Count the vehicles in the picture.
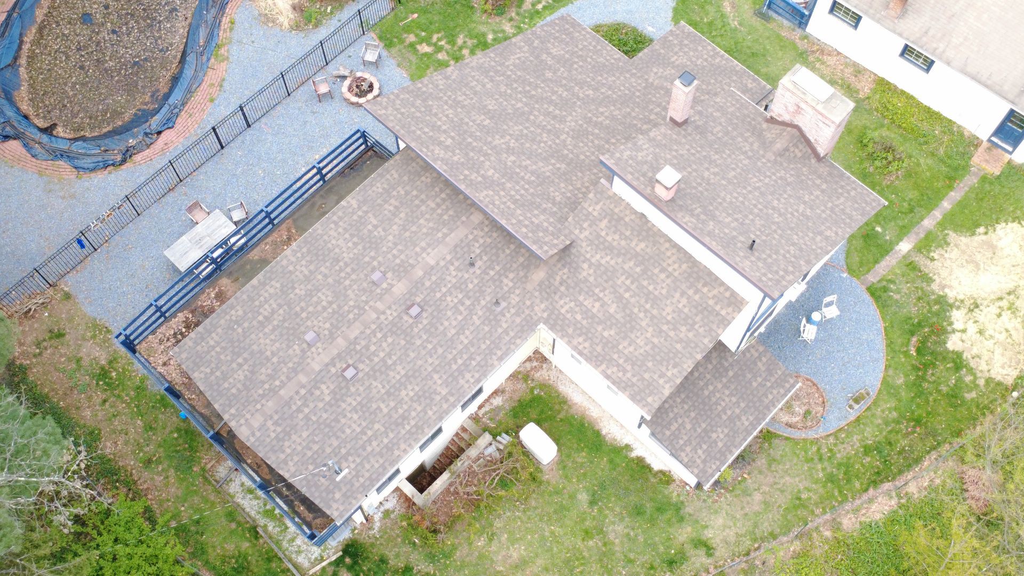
0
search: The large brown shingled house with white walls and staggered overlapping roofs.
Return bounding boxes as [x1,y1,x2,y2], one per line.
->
[169,13,888,526]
